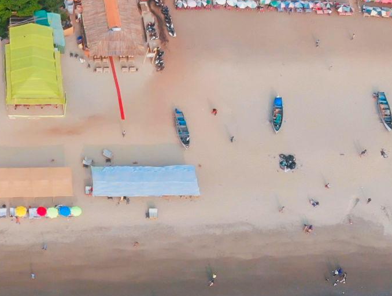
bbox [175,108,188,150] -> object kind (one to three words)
boat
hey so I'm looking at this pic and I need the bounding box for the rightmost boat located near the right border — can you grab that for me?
[377,91,392,133]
